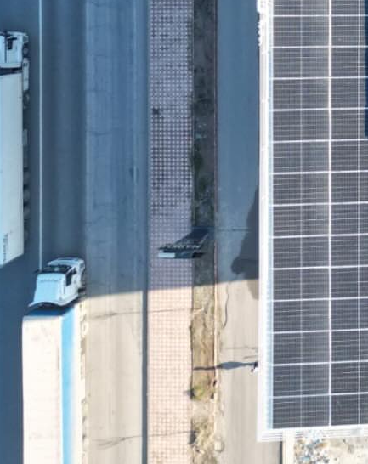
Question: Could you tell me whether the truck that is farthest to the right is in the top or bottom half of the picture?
bottom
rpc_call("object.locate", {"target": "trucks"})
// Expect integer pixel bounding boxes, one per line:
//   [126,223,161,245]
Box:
[0,31,30,265]
[24,258,86,464]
